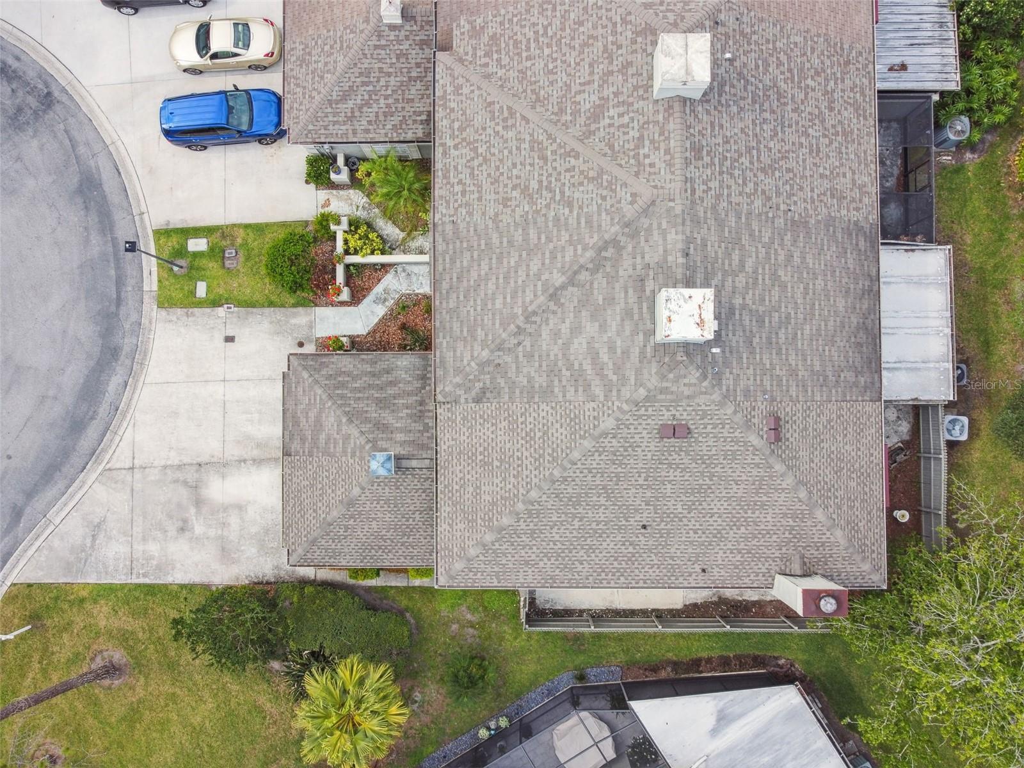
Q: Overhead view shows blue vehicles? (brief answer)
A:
Yes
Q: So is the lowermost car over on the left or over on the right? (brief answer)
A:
left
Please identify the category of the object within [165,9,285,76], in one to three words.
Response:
car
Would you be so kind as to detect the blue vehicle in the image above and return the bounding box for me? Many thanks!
[158,76,292,151]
